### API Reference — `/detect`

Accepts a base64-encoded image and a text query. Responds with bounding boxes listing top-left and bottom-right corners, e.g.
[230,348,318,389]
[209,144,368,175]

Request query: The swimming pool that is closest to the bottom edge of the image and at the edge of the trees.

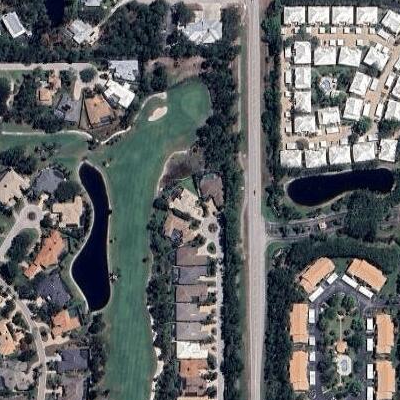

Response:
[337,355,351,375]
